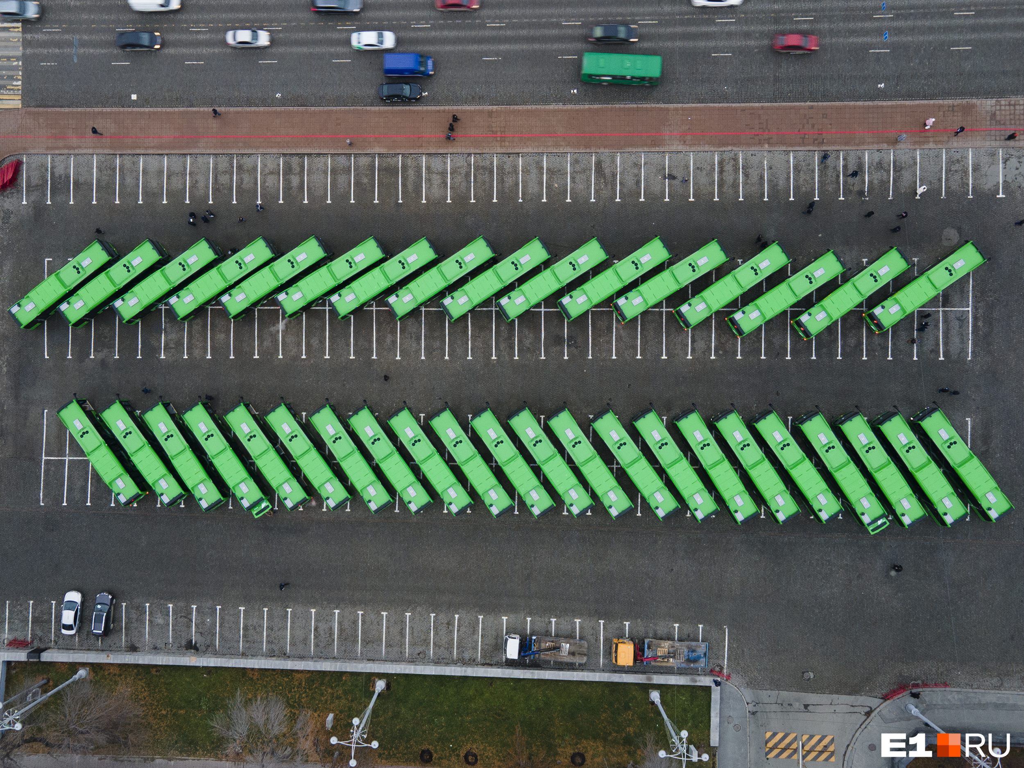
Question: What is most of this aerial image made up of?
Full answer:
Most of the picture is covered by paved ground.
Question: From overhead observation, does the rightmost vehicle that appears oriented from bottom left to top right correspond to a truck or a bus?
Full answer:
I'd say the rightmost vehicle that appears oriented from bottom left to top right is a bus.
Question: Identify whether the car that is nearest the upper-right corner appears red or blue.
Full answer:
The color of the car that is nearest the upper-right corner is red.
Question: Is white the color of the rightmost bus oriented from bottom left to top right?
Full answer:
No, the color of the rightmost bus oriented from bottom left to top right is green.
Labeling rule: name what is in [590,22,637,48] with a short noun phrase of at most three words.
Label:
car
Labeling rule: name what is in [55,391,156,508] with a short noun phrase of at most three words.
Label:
bus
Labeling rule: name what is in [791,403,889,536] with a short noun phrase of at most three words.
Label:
bus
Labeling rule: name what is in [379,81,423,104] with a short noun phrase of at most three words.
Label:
car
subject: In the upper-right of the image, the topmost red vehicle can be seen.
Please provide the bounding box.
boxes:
[772,31,819,57]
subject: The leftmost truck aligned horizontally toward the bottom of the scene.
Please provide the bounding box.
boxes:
[502,631,588,664]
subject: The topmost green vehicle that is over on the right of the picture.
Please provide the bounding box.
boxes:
[581,52,664,89]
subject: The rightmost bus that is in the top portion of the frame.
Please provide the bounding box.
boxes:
[856,238,993,335]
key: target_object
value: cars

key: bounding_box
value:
[133,0,179,16]
[379,81,423,104]
[437,0,479,14]
[91,590,118,636]
[314,0,362,16]
[63,589,88,634]
[119,30,163,54]
[352,29,397,53]
[772,31,819,57]
[590,22,637,48]
[0,0,44,22]
[227,27,272,51]
[692,0,741,12]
